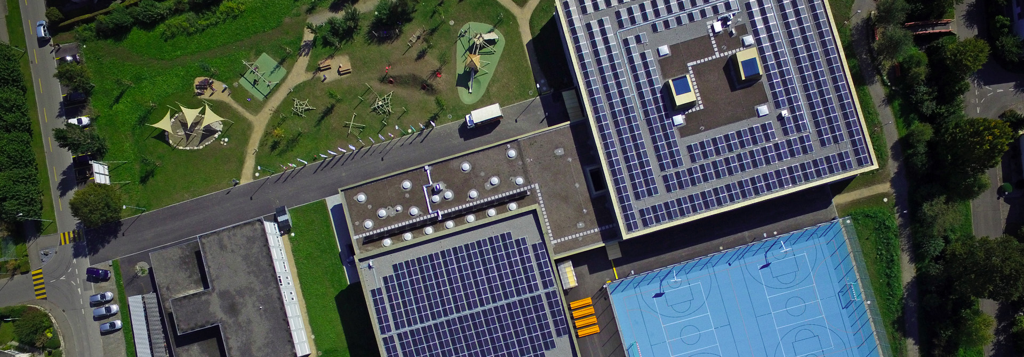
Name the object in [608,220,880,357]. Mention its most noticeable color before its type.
blue sports court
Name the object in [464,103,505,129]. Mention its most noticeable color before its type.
white truck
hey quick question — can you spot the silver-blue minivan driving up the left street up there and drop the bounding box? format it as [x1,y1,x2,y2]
[36,20,52,42]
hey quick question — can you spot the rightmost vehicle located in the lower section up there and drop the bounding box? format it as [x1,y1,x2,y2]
[343,245,357,268]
